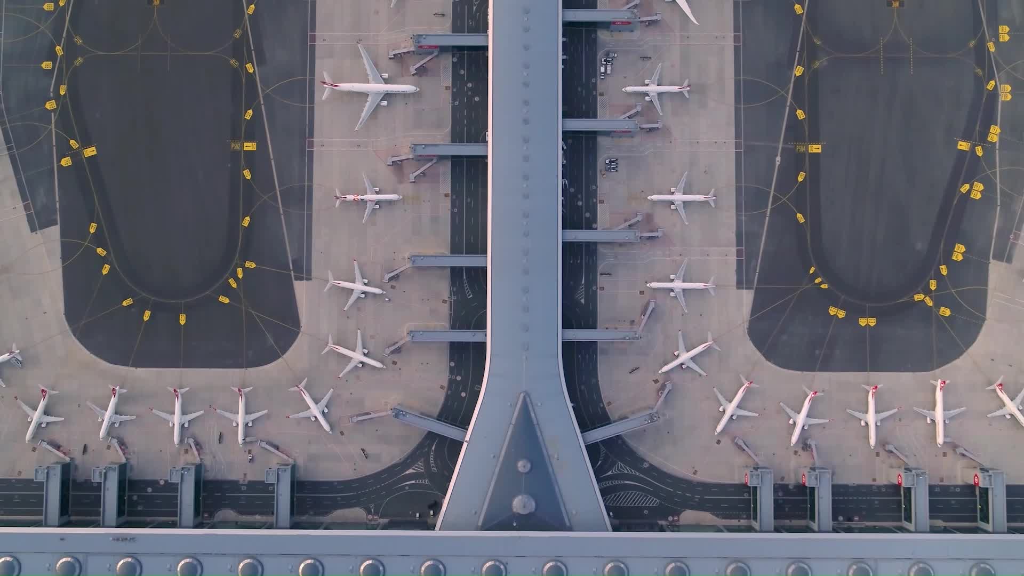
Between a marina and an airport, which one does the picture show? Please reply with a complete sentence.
The picture captures an airport.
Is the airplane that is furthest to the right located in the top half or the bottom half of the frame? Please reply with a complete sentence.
You can find the airplane that is furthest to the right in the bottom half.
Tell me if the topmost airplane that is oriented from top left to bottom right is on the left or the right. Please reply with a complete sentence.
You can find the topmost airplane that is oriented from top left to bottom right on the right side of the picture.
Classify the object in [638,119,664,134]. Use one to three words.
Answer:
jet bridge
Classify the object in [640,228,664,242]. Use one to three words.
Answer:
jet bridge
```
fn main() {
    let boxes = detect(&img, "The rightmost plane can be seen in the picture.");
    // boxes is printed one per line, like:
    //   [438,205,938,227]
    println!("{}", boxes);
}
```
[987,379,1024,430]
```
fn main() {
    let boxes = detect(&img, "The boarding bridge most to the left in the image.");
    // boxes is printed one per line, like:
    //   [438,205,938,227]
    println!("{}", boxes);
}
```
[38,438,75,462]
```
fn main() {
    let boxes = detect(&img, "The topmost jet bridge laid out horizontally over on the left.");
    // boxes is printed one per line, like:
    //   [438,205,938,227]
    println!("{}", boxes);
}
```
[388,46,416,59]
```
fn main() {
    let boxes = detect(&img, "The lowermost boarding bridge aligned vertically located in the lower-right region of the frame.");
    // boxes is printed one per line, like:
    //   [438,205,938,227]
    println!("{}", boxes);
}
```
[807,438,820,467]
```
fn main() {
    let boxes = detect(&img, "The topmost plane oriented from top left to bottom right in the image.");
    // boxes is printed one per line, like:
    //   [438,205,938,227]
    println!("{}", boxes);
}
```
[676,0,699,24]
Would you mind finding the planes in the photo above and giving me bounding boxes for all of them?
[335,171,402,223]
[676,0,699,24]
[647,259,718,313]
[713,377,761,434]
[622,63,691,115]
[323,42,420,130]
[647,171,717,224]
[14,386,62,443]
[288,380,333,433]
[151,389,203,446]
[846,389,901,448]
[987,379,1024,430]
[913,380,966,447]
[88,382,136,444]
[328,260,386,311]
[215,389,267,446]
[324,327,386,380]
[659,329,719,378]
[781,388,830,445]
